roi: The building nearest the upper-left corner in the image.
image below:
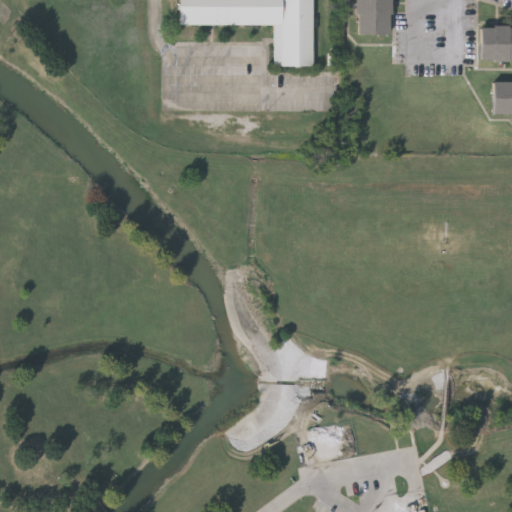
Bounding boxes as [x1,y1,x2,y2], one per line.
[180,0,314,66]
